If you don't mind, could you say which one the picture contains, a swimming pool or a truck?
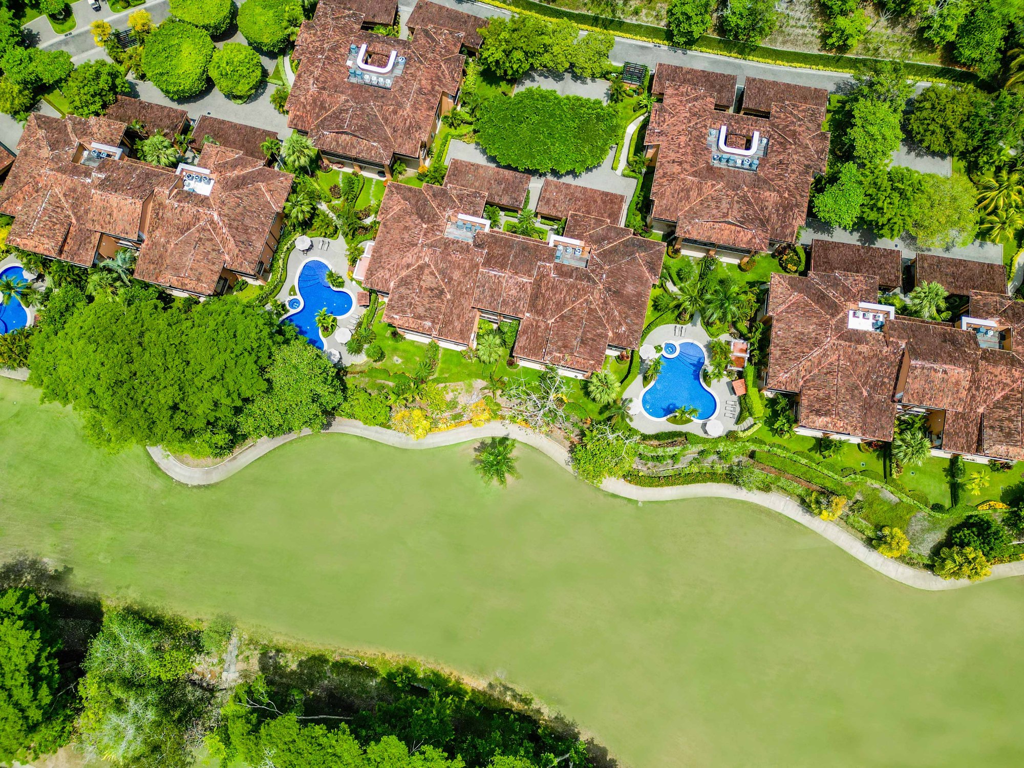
swimming pool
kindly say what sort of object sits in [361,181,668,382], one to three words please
house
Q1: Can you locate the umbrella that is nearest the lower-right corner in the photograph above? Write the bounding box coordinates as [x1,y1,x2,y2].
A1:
[705,420,721,436]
